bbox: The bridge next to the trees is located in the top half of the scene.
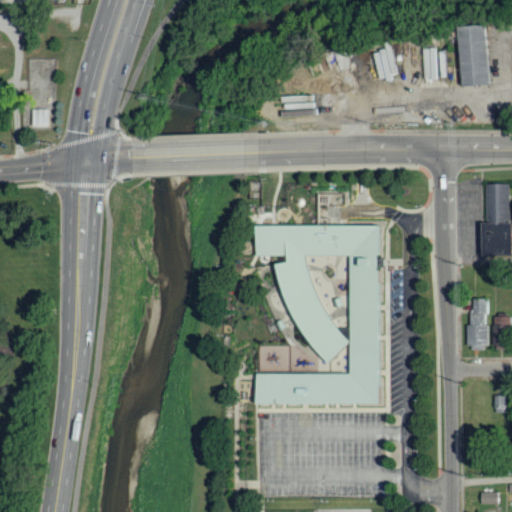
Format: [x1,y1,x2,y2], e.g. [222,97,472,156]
[131,132,244,177]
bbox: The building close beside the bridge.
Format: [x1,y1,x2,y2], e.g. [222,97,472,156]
[256,225,381,404]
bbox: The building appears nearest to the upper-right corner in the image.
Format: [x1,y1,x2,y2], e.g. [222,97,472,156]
[458,24,492,86]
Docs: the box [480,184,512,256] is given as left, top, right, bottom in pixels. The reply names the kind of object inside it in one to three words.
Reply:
house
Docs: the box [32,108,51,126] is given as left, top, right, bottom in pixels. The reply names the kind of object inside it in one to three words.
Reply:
shed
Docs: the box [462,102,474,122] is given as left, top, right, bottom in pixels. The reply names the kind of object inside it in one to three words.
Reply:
vehicle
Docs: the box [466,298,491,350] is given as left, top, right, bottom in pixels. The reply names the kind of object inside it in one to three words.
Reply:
house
